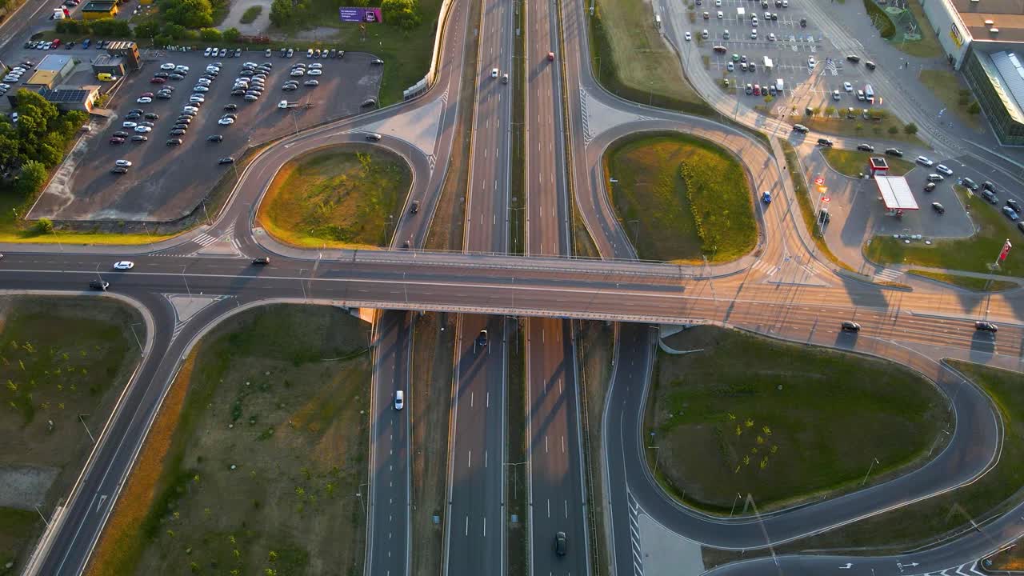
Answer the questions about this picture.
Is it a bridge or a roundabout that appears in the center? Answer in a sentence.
Looking in the center, you will find a bridge.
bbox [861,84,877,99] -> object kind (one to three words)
vehicle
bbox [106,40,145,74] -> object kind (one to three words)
building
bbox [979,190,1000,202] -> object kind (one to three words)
vehicle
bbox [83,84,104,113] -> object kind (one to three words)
building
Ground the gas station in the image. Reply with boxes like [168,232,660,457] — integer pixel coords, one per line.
[868,157,918,228]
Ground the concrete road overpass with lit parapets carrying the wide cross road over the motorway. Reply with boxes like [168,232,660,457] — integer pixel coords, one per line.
[342,246,701,341]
